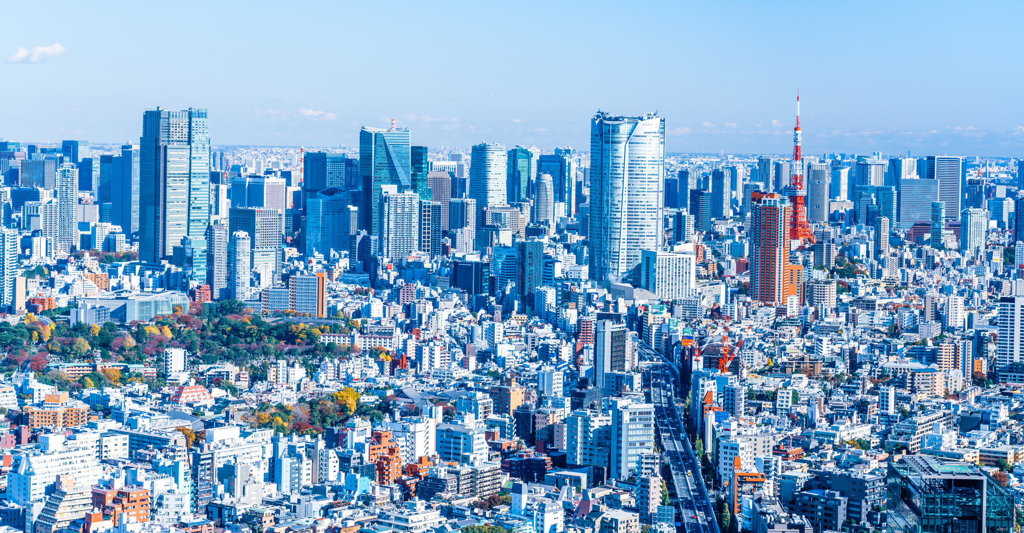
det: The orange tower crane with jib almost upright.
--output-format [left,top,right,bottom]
[709,315,733,373]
